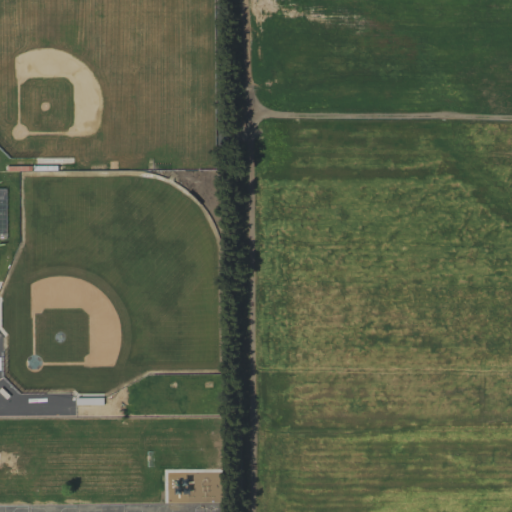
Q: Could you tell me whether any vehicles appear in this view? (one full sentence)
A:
No, there is no vehicle in the image.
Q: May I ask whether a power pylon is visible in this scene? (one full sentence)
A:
No, no power pylon is visible in the scene.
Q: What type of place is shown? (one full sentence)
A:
It's a sports ground.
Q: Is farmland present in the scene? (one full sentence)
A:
Yes, farmland can be seen from above here.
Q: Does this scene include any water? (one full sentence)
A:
No, there is no water in the image.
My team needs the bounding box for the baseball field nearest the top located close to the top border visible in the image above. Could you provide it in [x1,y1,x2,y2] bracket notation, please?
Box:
[0,0,217,169]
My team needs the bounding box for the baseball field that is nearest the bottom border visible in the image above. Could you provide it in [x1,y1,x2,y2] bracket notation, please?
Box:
[0,170,222,395]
